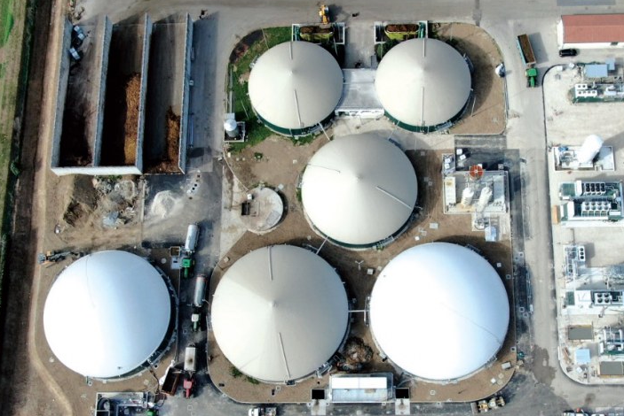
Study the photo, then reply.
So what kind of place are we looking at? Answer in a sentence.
What you see here is an industrial area.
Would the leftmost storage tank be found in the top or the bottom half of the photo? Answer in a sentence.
The bottom half of the photo is where the leftmost storage tank is.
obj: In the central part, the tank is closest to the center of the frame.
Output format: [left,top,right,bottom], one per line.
[296,133,423,252]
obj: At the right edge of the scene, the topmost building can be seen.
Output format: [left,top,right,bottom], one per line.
[558,14,624,51]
